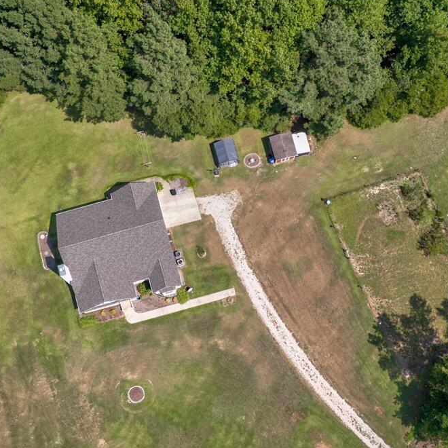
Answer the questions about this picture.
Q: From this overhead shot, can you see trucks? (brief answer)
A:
No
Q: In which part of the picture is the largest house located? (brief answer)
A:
left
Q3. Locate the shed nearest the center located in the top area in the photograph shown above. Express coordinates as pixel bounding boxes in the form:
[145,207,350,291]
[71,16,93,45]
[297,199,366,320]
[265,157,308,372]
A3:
[214,138,239,169]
